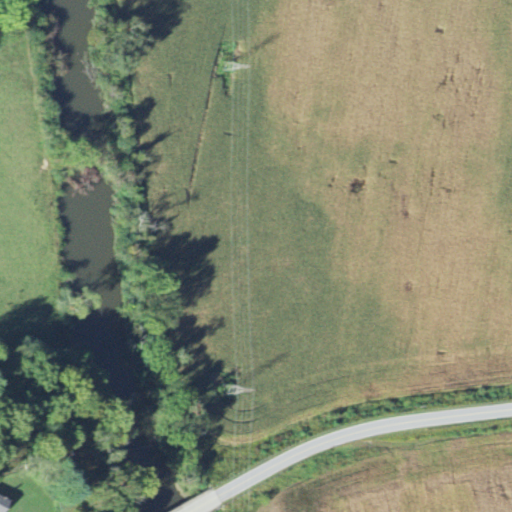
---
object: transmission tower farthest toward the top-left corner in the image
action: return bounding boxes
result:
[224,60,248,72]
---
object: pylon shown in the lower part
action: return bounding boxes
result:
[226,384,250,398]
